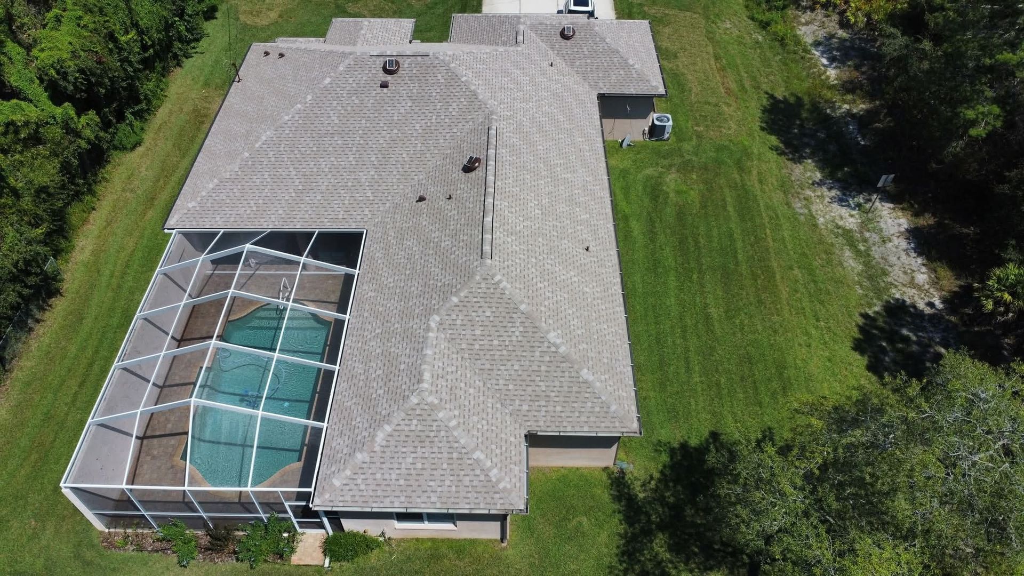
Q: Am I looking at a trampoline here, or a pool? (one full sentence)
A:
The one in the frame is a pool.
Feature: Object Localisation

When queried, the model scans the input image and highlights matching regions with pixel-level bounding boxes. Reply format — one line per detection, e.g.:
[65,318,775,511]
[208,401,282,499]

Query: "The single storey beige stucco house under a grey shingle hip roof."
[161,14,666,544]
